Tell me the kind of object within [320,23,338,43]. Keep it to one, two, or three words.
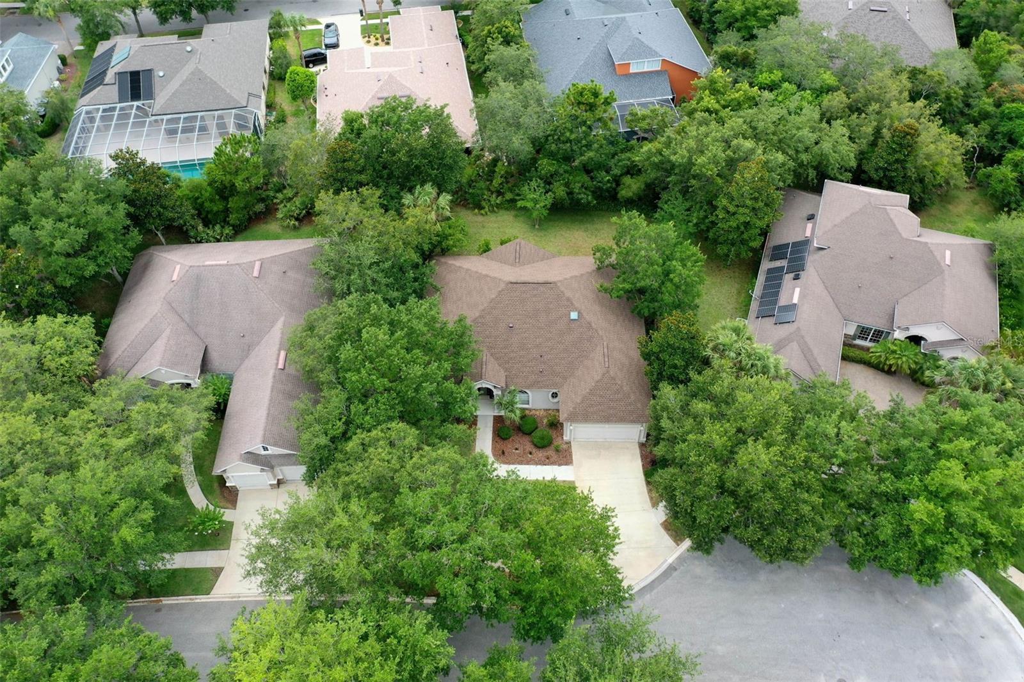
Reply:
car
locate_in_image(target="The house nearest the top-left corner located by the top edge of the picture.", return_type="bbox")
[0,25,50,110]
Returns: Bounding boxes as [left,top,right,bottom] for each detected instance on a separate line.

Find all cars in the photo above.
[298,43,338,64]
[320,23,338,43]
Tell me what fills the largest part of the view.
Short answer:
trees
